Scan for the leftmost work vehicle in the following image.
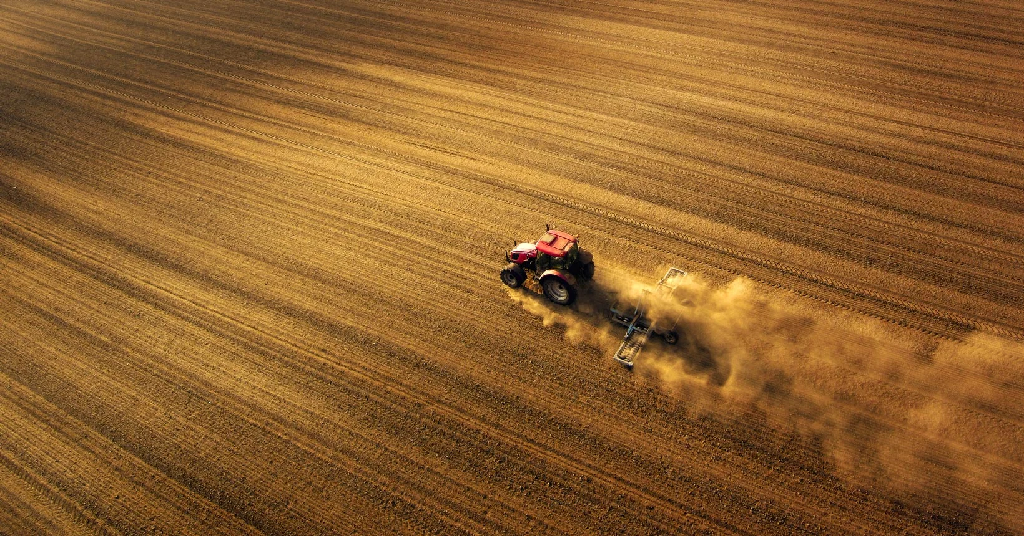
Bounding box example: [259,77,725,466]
[501,223,593,305]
